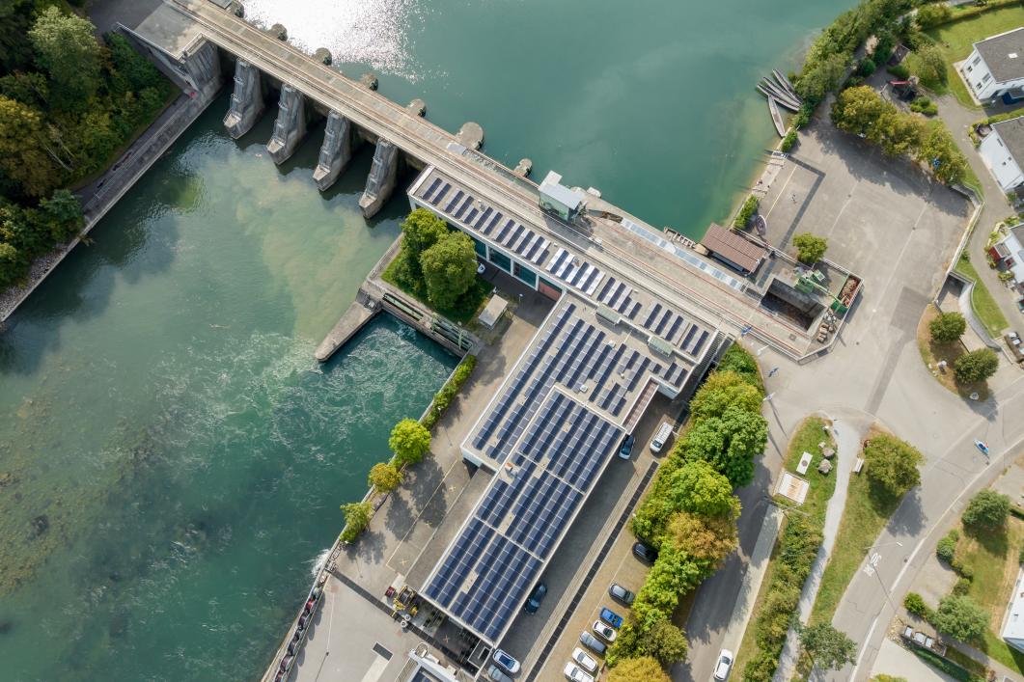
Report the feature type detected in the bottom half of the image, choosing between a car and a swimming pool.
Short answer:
car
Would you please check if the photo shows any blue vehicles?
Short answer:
Yes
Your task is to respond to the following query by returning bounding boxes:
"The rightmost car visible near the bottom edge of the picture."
[712,646,734,682]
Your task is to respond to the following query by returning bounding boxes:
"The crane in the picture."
[790,271,842,309]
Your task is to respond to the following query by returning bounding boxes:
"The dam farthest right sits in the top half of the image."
[164,0,850,364]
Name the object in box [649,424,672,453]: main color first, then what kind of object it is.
white vehicle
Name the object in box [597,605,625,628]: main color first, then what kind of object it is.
blue car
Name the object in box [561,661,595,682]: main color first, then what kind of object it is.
white car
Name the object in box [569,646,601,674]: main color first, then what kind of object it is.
white car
